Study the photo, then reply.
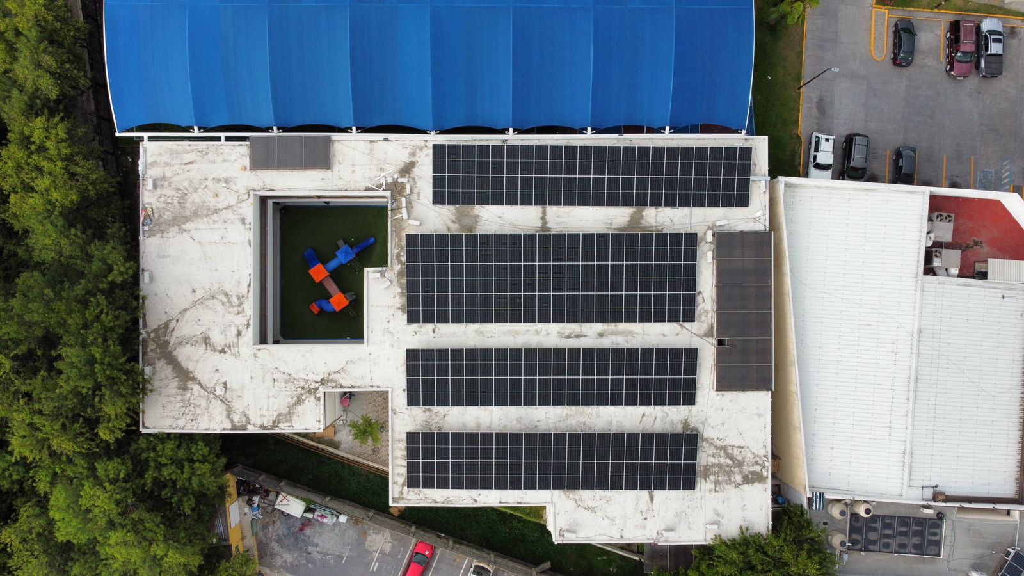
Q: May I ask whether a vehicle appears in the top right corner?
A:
Yes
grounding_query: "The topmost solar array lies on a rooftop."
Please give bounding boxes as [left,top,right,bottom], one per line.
[432,145,752,207]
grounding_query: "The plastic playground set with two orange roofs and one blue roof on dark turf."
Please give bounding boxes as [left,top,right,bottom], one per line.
[303,236,375,321]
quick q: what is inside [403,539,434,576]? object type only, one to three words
car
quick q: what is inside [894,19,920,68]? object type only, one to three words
car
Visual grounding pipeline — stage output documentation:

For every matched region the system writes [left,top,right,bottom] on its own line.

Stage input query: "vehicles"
[807,131,835,181]
[403,539,434,576]
[894,19,920,68]
[946,18,977,80]
[893,146,919,186]
[468,558,492,576]
[840,133,869,183]
[975,17,1007,79]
